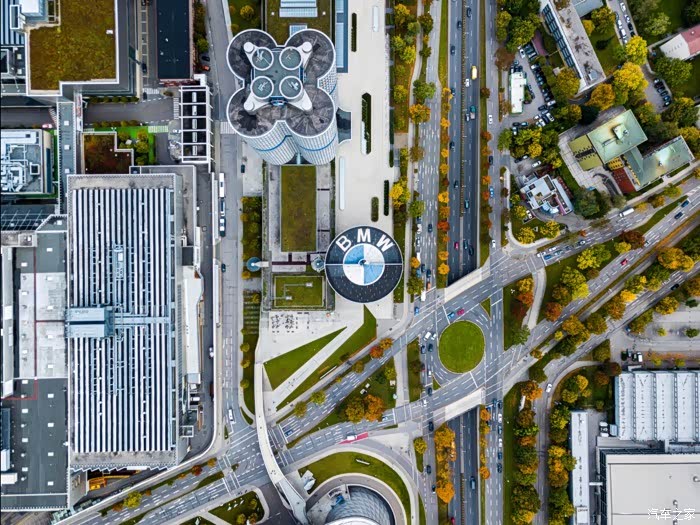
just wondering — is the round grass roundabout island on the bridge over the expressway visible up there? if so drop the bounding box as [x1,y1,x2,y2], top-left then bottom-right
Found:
[435,313,489,379]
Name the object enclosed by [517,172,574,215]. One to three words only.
house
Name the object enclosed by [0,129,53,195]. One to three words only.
building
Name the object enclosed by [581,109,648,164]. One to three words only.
building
